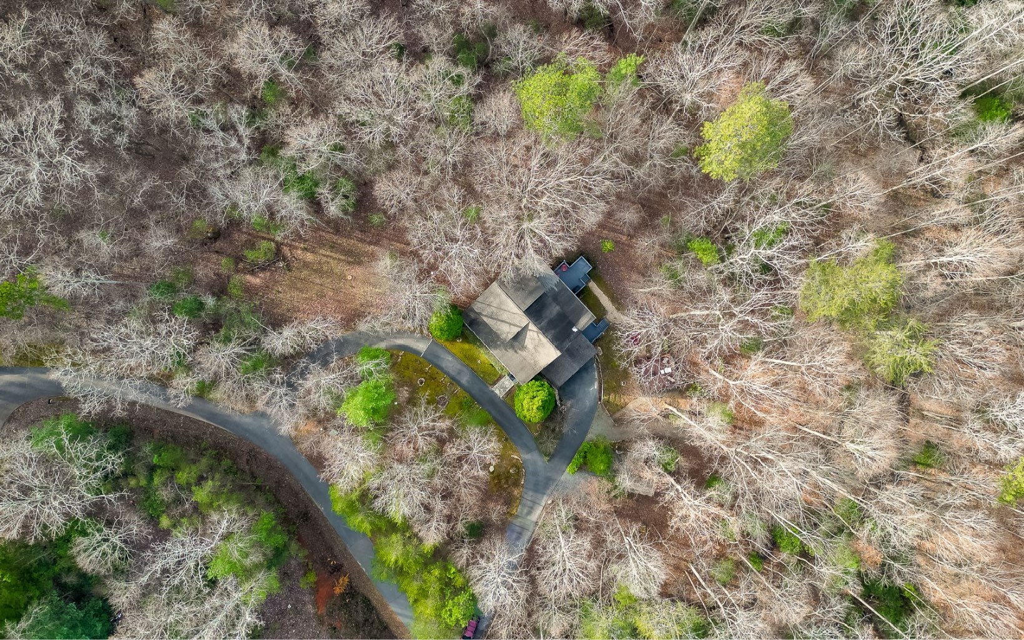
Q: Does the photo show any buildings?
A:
Yes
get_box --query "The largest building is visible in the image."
[463,248,599,389]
